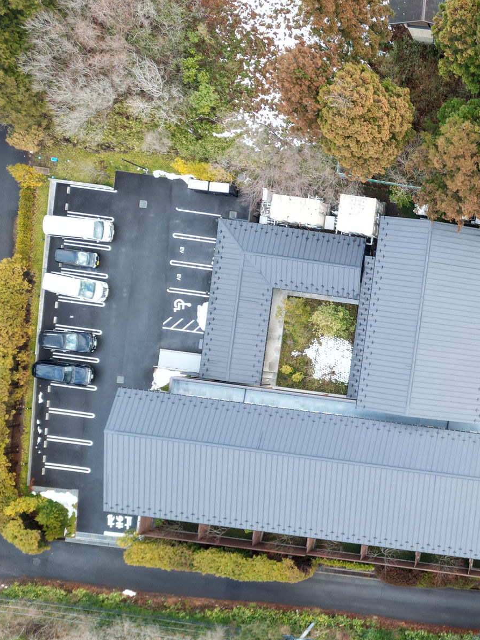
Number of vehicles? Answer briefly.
5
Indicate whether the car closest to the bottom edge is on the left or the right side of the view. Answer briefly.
left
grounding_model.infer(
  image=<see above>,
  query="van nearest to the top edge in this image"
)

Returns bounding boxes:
[38,215,109,244]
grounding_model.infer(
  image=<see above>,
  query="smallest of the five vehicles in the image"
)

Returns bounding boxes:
[50,246,96,268]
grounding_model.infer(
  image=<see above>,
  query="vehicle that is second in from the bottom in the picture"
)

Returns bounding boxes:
[34,330,96,356]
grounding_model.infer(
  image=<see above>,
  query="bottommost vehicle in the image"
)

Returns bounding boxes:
[29,360,94,388]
